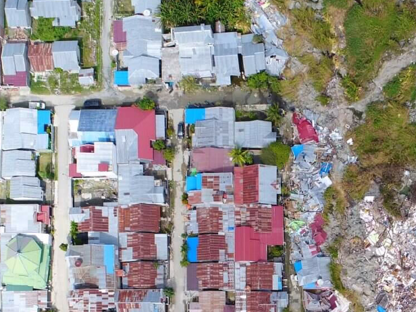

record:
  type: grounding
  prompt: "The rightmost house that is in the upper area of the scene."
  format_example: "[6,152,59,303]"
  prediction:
[265,48,288,79]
